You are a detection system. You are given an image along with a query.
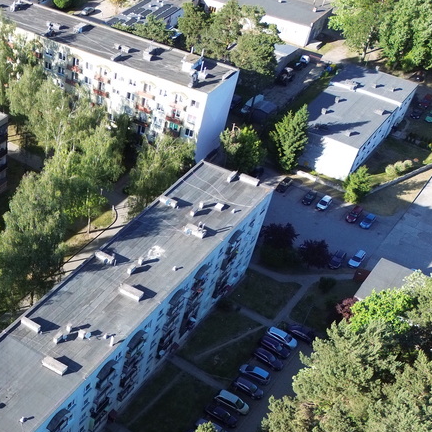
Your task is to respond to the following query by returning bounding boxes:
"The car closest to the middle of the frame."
[274,175,294,194]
